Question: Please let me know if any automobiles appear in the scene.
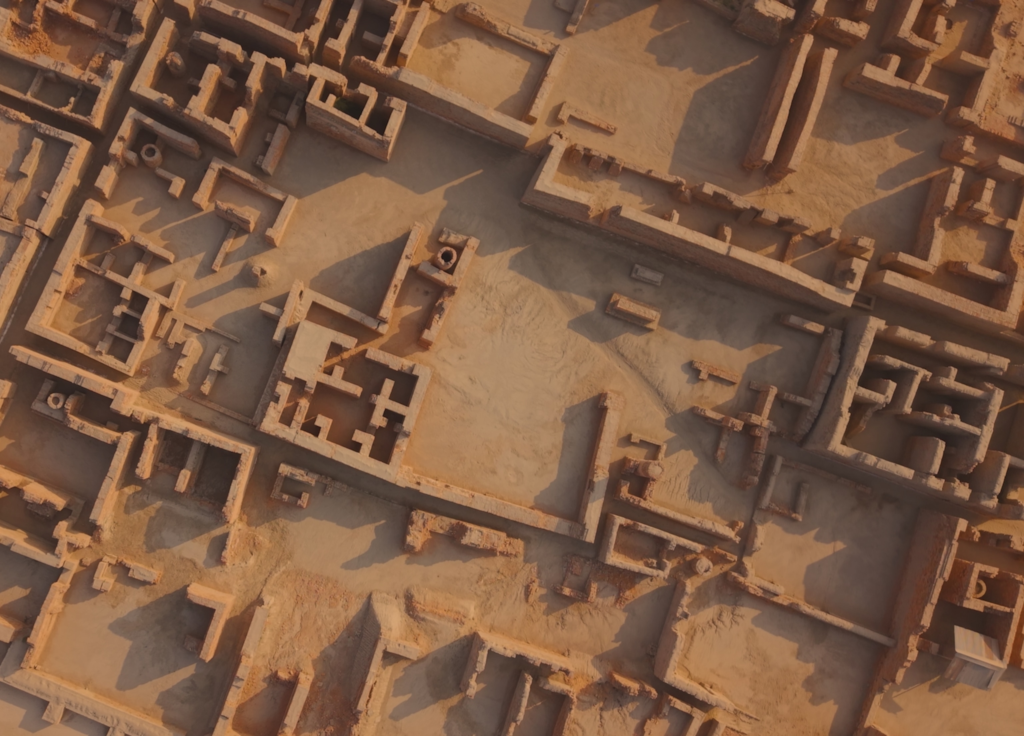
No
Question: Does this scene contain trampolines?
No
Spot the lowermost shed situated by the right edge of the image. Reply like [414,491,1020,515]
[938,620,1005,690]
